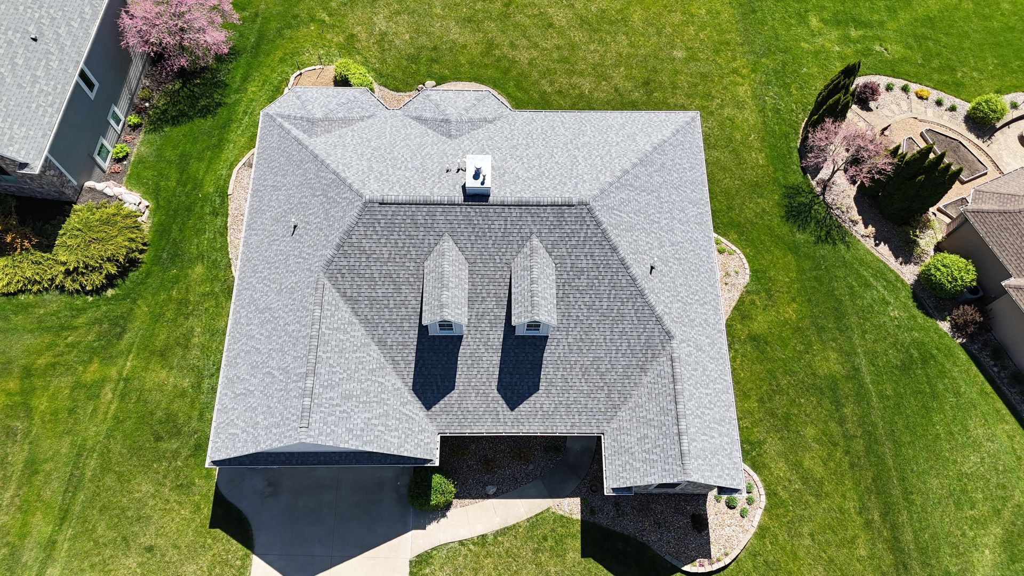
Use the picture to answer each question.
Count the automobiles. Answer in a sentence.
There are no automobiles in the image.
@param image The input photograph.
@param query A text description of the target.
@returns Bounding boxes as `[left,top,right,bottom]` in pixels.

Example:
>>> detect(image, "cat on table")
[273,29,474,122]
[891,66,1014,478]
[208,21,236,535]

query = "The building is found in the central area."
[207,87,743,495]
